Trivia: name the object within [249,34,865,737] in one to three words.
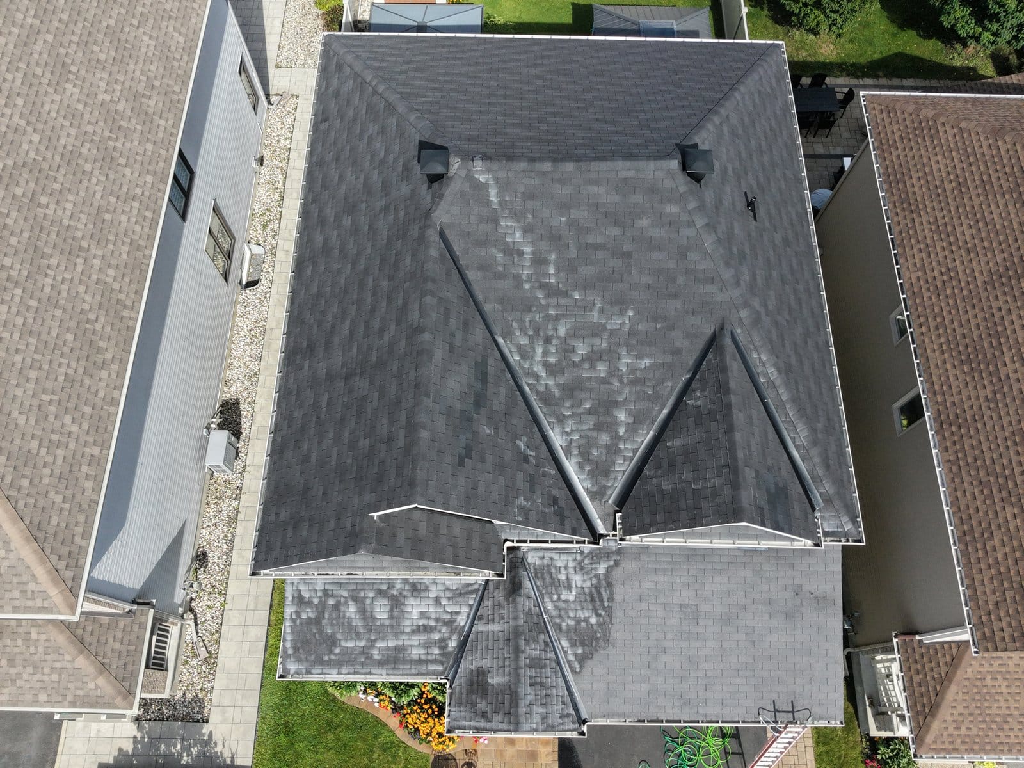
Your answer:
house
